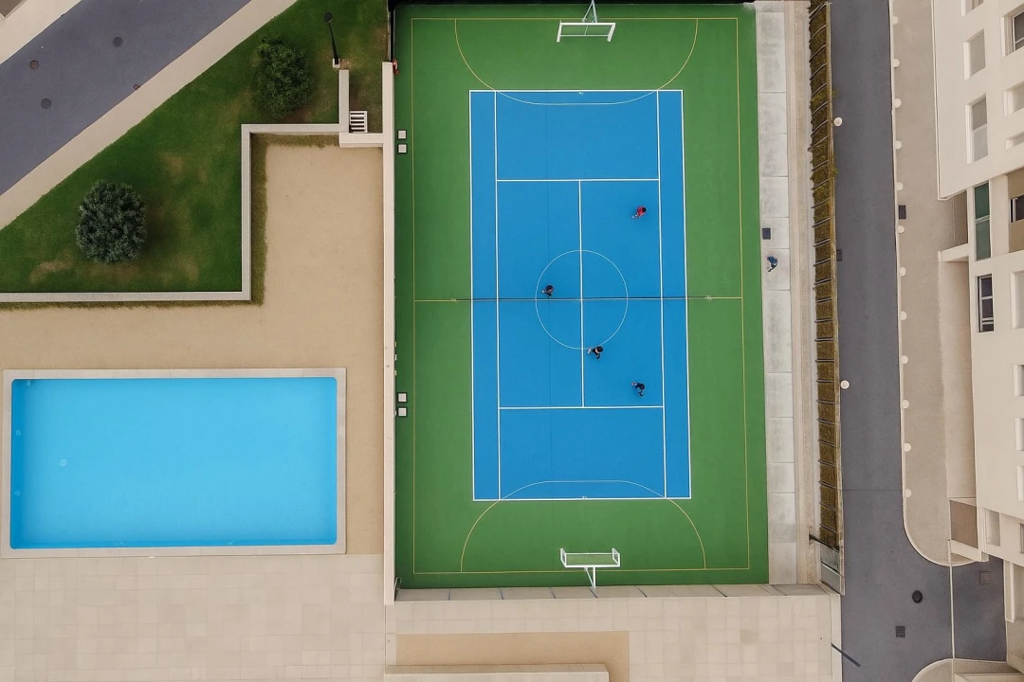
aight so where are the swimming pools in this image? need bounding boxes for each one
[1,368,346,557]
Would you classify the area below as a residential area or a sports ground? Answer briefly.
sports ground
